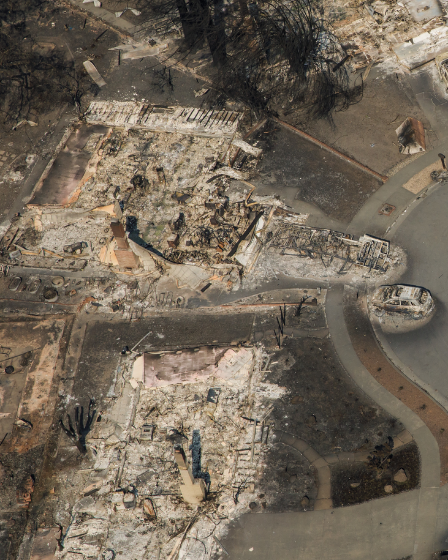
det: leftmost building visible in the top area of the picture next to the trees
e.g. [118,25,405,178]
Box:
[0,94,293,297]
